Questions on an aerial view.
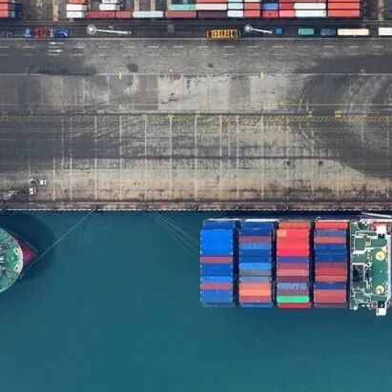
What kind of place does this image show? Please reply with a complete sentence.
It's a port.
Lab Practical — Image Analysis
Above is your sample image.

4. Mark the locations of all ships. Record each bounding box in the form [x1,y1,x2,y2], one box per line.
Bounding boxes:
[0,227,42,291]
[205,214,392,317]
